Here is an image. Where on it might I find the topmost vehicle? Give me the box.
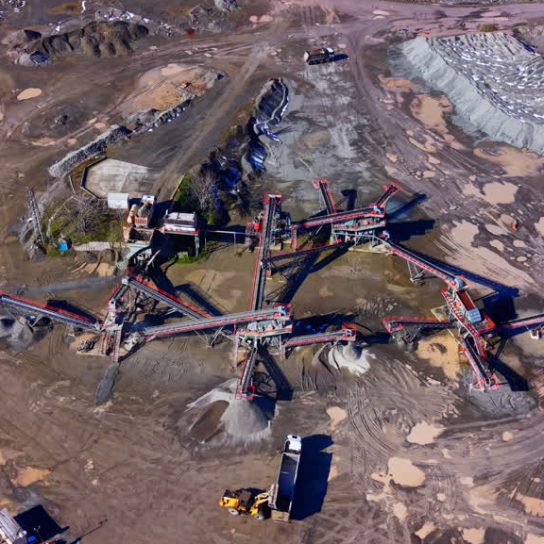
[304,46,335,66]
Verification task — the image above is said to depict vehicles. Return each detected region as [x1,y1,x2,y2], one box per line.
[217,490,281,522]
[304,46,335,66]
[270,437,303,520]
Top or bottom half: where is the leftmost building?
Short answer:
bottom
